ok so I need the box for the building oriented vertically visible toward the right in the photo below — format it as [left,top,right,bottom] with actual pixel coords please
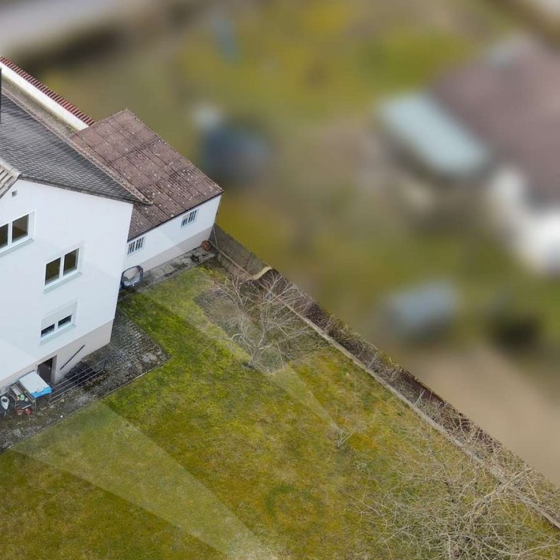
[464,35,560,261]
